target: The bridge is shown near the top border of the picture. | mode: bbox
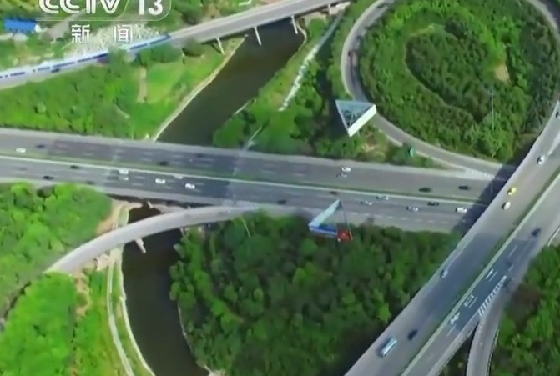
[142,0,333,53]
